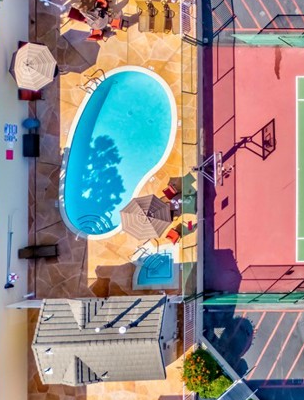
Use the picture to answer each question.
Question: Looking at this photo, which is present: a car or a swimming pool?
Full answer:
This aerial view contains a swimming pool.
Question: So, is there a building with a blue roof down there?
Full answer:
No, I can see no building with a blue roof in this picture.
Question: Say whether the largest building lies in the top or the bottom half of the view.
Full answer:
The largest building sits in the bottom half of the picture.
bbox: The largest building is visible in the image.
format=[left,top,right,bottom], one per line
[30,297,179,386]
